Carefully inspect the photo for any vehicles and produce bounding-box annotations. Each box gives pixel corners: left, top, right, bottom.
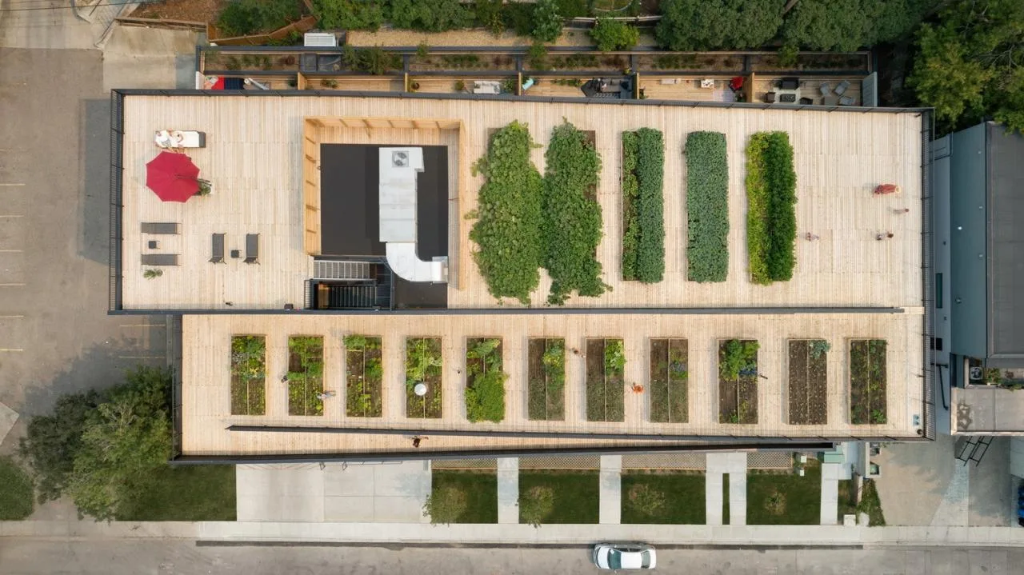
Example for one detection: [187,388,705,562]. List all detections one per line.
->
[592,541,657,574]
